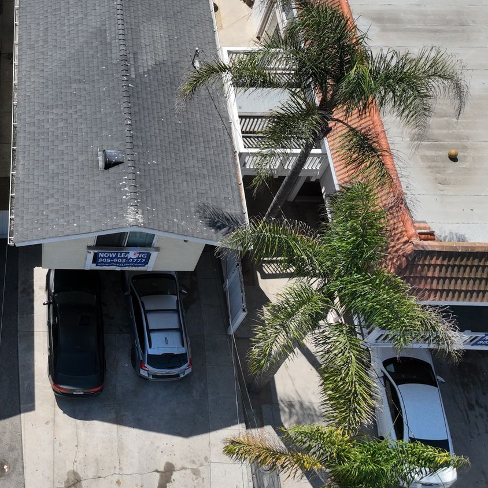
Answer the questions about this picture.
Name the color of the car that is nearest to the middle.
black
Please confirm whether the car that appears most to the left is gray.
No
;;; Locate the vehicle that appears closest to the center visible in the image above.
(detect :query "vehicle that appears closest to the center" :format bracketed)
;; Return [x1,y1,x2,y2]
[120,270,192,383]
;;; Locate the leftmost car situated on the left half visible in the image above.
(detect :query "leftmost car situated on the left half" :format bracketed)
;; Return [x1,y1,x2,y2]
[41,268,110,399]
